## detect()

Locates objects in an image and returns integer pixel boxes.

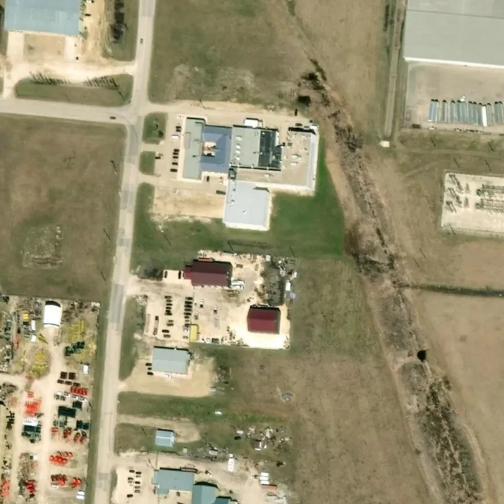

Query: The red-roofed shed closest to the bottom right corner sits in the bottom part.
[247,307,282,336]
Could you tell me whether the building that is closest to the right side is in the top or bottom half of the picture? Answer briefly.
top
